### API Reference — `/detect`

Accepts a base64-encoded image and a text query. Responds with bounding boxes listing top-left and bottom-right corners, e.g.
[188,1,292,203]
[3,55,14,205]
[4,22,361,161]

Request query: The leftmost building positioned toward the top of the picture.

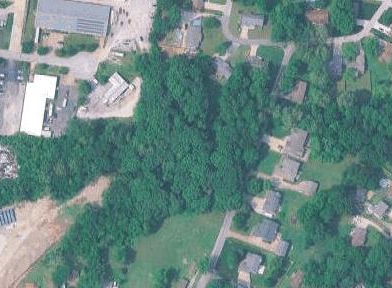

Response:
[20,74,57,135]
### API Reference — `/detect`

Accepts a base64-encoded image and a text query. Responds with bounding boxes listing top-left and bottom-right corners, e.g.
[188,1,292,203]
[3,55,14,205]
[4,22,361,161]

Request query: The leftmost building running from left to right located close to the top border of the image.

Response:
[33,0,111,35]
